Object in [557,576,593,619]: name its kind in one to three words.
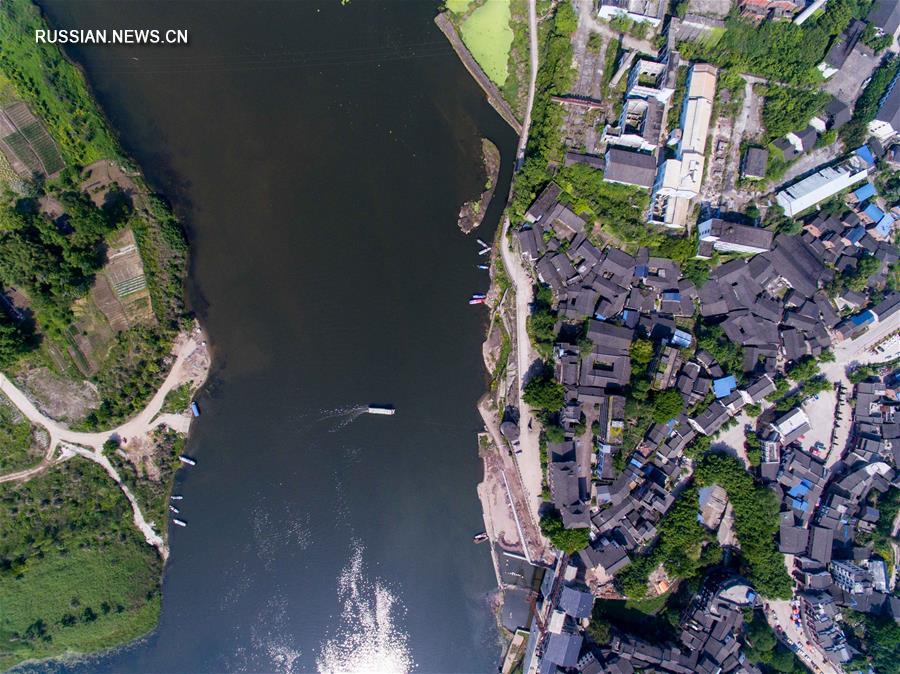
building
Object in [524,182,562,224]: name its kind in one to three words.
house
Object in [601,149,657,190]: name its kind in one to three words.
building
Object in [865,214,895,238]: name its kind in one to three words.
shed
